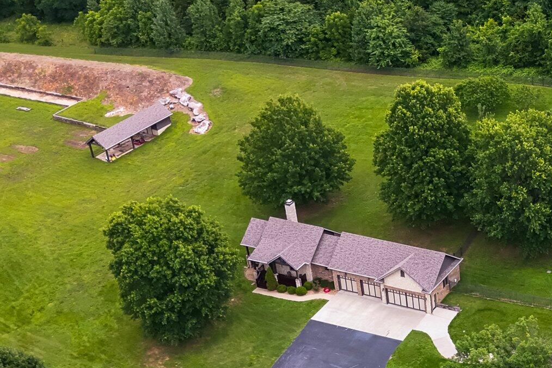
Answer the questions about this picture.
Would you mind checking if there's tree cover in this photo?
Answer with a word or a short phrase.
Yes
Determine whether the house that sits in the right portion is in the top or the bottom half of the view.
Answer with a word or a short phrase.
bottom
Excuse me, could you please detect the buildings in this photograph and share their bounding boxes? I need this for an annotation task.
[81,100,172,162]
[240,194,464,314]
